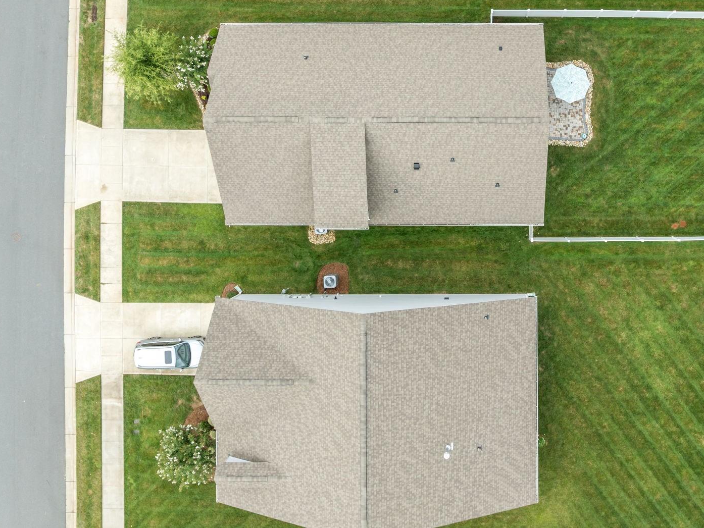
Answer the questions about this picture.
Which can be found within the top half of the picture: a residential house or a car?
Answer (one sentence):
Visible within the top half of the picture is a residential house.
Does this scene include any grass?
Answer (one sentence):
Yes, grass shows up in the scene.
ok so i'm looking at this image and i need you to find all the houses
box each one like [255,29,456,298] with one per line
[195,279,538,528]
[204,21,548,230]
